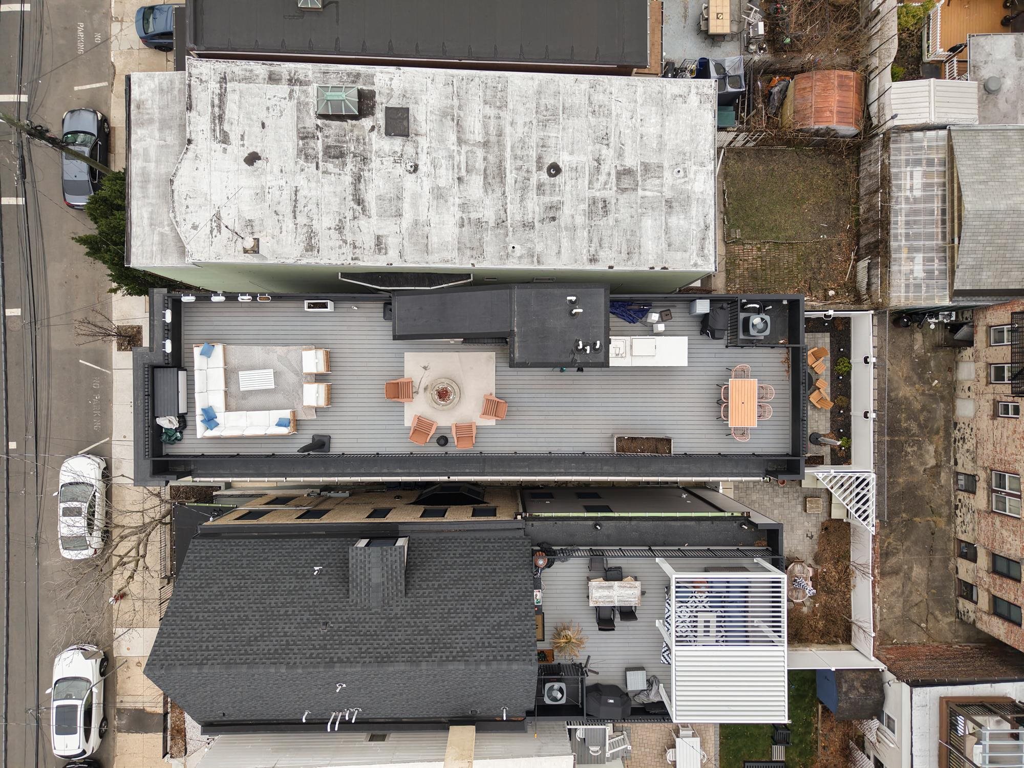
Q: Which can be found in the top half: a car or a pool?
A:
car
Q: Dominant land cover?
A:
buildings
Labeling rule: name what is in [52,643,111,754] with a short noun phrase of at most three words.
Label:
car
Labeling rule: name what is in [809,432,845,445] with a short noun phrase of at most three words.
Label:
umbrella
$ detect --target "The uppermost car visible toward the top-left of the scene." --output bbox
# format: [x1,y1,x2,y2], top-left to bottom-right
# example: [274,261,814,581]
[137,6,172,55]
